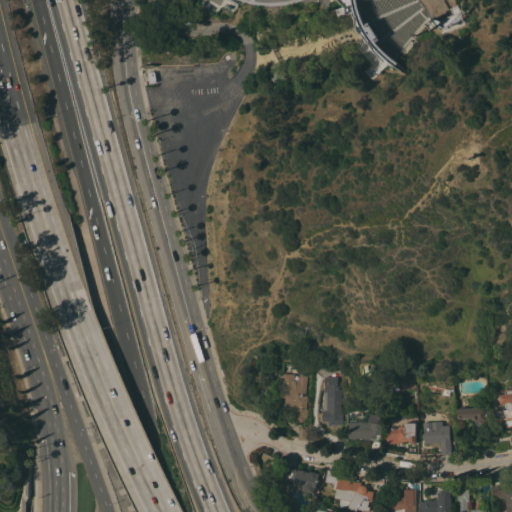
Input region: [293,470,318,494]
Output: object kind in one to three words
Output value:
house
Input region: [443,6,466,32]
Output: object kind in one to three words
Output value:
building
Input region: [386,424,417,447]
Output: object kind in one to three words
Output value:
house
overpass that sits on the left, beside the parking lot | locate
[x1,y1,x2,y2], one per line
[0,122,182,512]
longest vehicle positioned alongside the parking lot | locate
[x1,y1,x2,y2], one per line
[189,324,206,364]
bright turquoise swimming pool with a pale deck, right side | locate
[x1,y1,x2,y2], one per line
[460,378,487,396]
